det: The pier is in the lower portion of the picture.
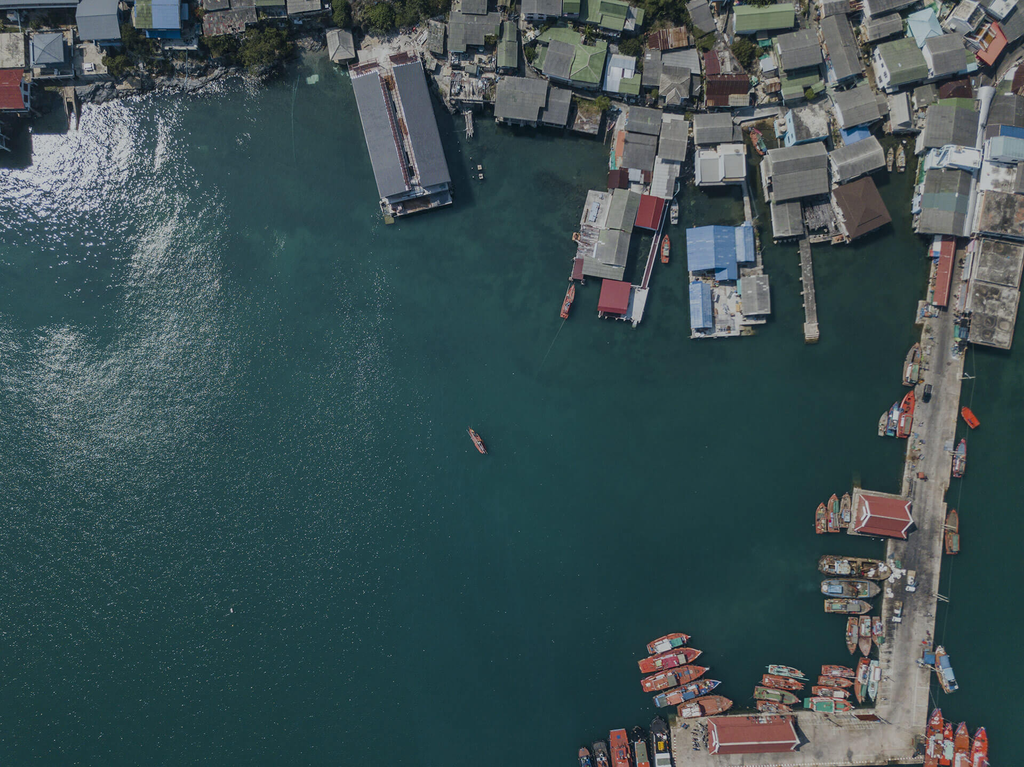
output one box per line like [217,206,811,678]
[670,238,967,767]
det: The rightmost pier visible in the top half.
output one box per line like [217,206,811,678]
[796,239,819,340]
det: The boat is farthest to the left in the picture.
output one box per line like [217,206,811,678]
[467,426,489,456]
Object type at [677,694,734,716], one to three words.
boat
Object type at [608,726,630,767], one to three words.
ship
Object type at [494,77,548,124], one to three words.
house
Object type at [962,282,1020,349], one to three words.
building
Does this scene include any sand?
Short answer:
No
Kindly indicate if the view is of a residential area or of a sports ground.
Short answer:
residential area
